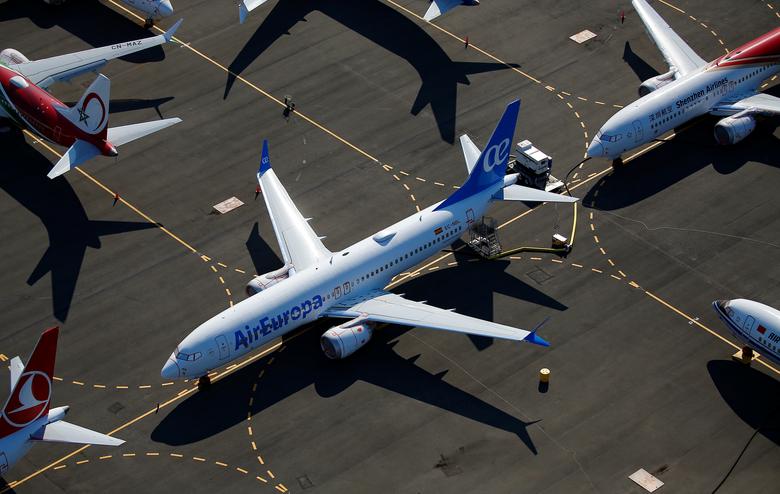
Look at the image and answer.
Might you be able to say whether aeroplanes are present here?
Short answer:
Yes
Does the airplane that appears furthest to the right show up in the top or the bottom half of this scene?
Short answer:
bottom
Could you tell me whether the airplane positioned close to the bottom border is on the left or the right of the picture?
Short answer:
left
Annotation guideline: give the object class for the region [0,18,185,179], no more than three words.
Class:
airplane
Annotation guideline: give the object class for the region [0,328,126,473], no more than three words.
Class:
airplane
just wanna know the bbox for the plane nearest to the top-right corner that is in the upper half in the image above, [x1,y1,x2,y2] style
[585,0,780,168]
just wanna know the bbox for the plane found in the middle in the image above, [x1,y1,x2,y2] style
[161,99,580,385]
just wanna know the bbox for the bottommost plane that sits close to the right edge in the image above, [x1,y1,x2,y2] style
[711,300,780,368]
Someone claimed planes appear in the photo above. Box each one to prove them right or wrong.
[0,328,126,473]
[711,300,780,368]
[585,0,780,168]
[117,0,174,28]
[161,99,580,385]
[0,18,185,179]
